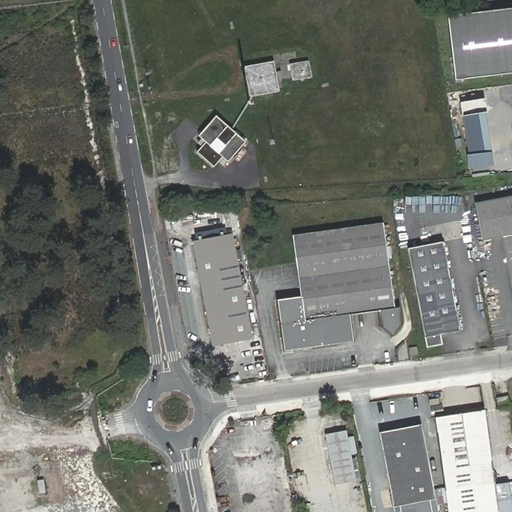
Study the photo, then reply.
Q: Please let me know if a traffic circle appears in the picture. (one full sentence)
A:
Yes, the photo shows a traffic circle.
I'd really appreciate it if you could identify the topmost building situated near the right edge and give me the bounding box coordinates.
[448,8,512,81]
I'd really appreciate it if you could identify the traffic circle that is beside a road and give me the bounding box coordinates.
[118,364,233,468]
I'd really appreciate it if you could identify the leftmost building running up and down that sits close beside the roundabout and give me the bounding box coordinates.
[193,234,252,346]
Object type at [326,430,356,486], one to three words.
shed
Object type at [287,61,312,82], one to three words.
building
